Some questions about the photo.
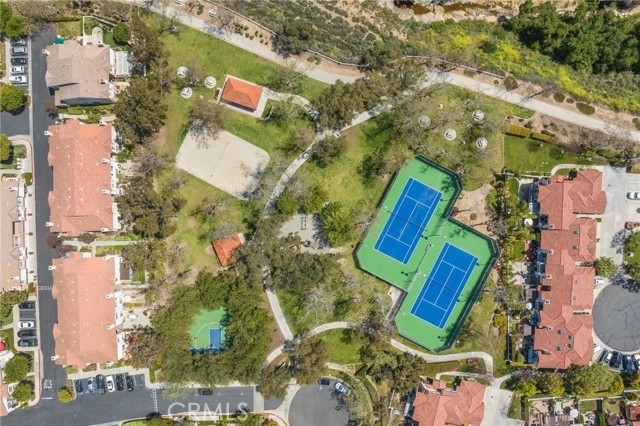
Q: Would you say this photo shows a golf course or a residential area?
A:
residential area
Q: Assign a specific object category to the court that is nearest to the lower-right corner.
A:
tennis court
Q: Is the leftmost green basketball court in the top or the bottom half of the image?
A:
bottom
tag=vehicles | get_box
[115,374,125,391]
[19,329,36,337]
[334,382,350,395]
[18,321,35,329]
[106,374,116,392]
[10,46,28,54]
[96,374,106,394]
[11,57,28,65]
[86,377,95,392]
[627,192,640,199]
[18,339,38,347]
[622,353,632,370]
[594,344,604,355]
[9,75,28,83]
[11,38,28,46]
[11,66,25,74]
[599,349,612,363]
[126,374,135,390]
[75,379,84,394]
[19,302,36,309]
[316,377,331,386]
[609,350,622,369]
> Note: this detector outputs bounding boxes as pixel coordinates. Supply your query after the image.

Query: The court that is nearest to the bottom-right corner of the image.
[396,217,492,349]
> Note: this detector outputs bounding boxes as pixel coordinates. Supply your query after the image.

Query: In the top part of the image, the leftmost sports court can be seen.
[175,122,270,200]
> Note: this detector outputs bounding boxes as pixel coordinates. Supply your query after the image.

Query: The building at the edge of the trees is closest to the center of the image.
[212,234,248,267]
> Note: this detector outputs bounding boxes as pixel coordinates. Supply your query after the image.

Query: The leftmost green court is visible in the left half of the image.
[184,302,235,352]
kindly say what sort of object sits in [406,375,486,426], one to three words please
house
